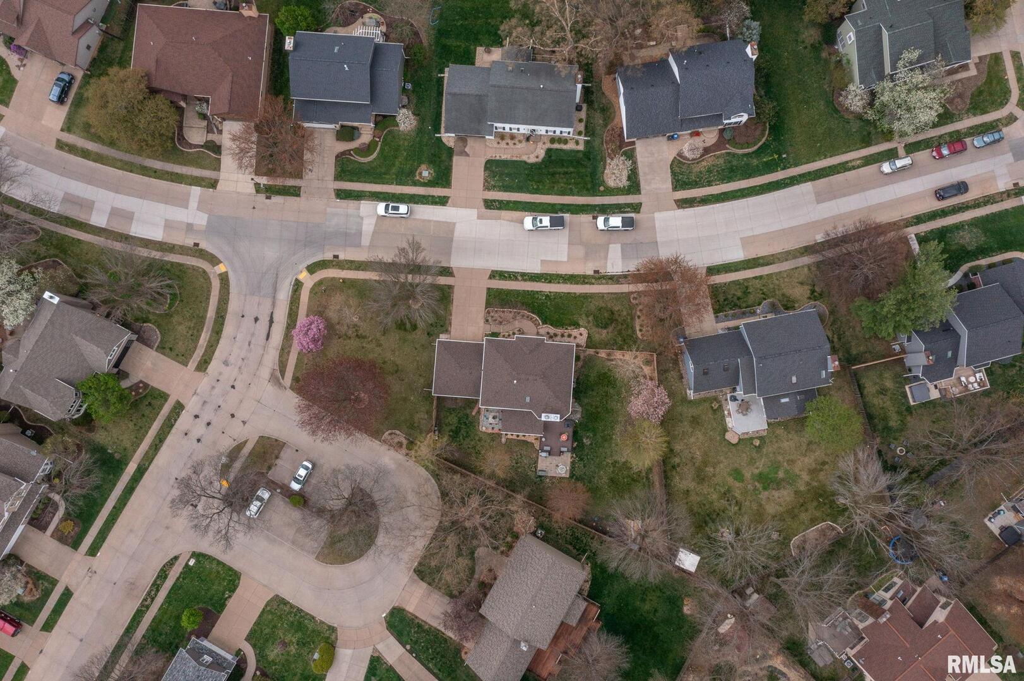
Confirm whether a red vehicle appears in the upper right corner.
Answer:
Yes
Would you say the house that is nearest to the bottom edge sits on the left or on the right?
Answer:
left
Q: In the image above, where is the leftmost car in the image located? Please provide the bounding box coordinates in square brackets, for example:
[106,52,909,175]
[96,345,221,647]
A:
[0,609,23,636]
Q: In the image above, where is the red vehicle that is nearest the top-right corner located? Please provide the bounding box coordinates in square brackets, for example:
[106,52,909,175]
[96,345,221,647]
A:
[929,139,966,161]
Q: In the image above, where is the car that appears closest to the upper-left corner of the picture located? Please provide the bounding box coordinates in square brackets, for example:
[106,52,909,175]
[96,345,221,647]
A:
[47,72,74,105]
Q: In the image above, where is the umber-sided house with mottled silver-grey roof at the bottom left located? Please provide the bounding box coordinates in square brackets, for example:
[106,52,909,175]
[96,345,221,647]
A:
[161,633,241,681]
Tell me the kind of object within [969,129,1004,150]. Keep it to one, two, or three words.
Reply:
car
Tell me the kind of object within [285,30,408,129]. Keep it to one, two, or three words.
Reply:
house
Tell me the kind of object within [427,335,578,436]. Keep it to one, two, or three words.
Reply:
house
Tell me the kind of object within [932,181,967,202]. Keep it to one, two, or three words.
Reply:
car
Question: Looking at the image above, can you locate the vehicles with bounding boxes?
[932,181,967,202]
[47,72,74,105]
[0,609,23,636]
[969,129,1004,150]
[247,487,271,519]
[878,155,912,175]
[524,215,564,231]
[291,459,313,491]
[379,202,410,218]
[596,215,635,231]
[929,139,966,161]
